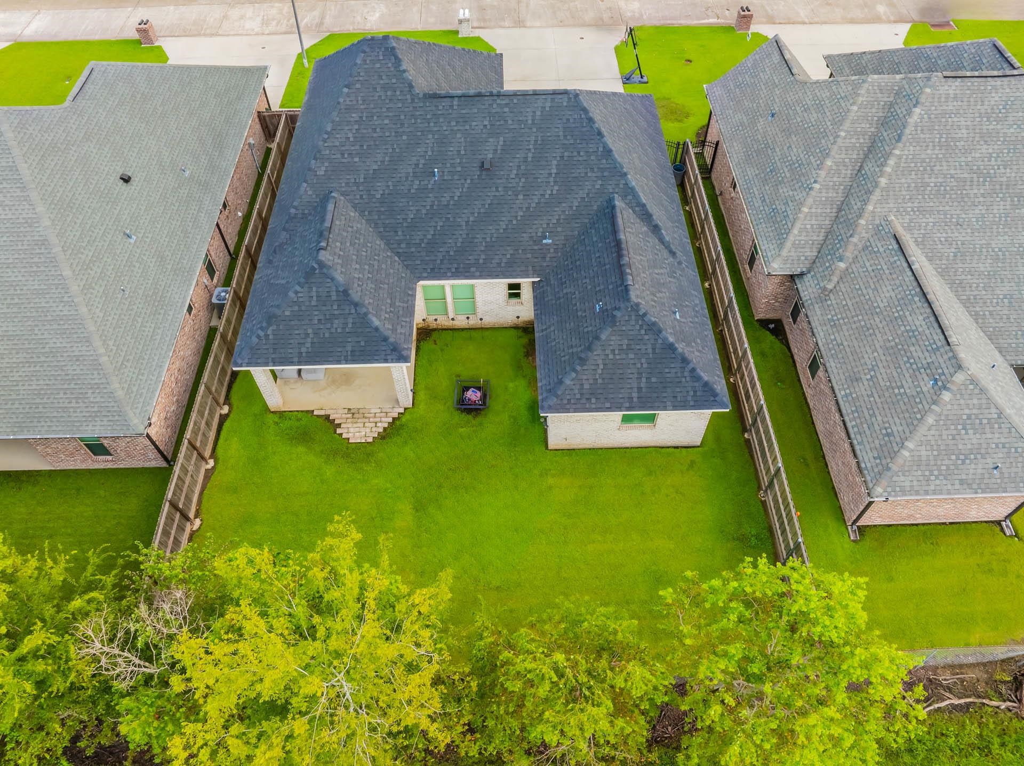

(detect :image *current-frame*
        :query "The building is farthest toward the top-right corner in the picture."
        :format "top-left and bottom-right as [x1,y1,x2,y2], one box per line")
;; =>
[698,31,1024,534]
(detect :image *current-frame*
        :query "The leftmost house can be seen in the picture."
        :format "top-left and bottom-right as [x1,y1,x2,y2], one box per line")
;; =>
[0,60,275,471]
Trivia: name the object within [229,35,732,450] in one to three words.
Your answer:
house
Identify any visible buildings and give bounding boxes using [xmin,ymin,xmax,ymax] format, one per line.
[698,31,1024,534]
[229,35,732,450]
[0,60,275,471]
